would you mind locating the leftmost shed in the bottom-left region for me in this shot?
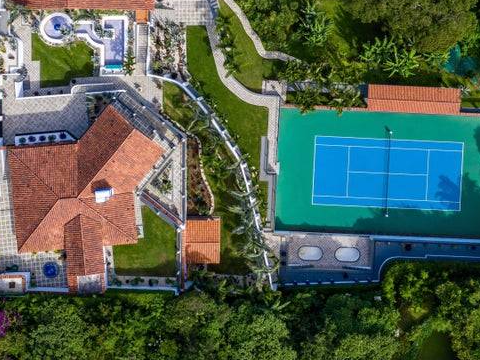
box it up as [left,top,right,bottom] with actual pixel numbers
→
[0,270,34,294]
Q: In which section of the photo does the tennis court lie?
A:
right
